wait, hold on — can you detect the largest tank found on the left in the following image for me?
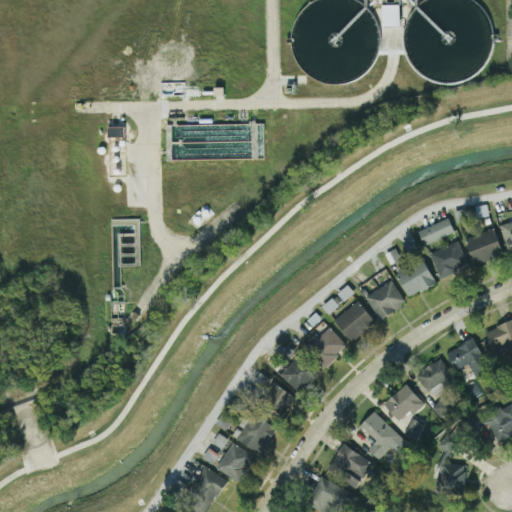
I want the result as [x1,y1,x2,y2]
[111,218,141,288]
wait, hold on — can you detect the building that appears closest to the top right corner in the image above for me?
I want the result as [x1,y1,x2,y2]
[382,3,400,26]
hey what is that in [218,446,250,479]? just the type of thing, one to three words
house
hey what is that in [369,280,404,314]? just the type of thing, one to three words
house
